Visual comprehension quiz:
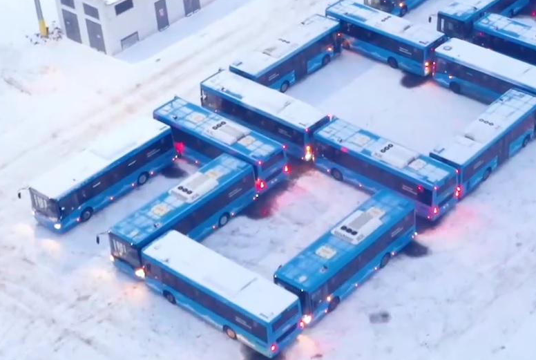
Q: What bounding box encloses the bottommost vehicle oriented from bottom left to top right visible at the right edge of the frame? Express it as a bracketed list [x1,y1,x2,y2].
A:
[430,88,536,194]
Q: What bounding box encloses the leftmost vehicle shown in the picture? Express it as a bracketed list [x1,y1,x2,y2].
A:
[21,120,173,228]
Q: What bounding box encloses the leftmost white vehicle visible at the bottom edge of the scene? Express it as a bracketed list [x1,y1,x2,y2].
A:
[132,227,300,352]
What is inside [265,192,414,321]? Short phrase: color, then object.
blue bus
